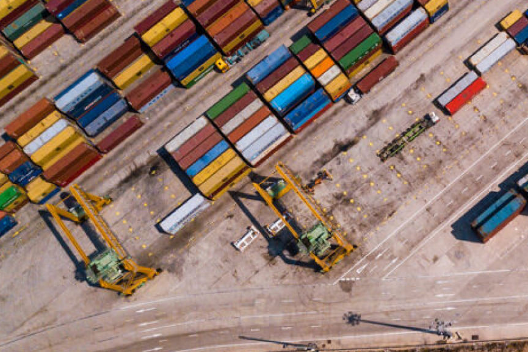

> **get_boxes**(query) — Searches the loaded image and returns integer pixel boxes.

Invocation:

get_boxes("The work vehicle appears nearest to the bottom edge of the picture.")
[304,167,331,190]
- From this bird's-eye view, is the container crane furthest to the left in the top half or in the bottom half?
bottom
